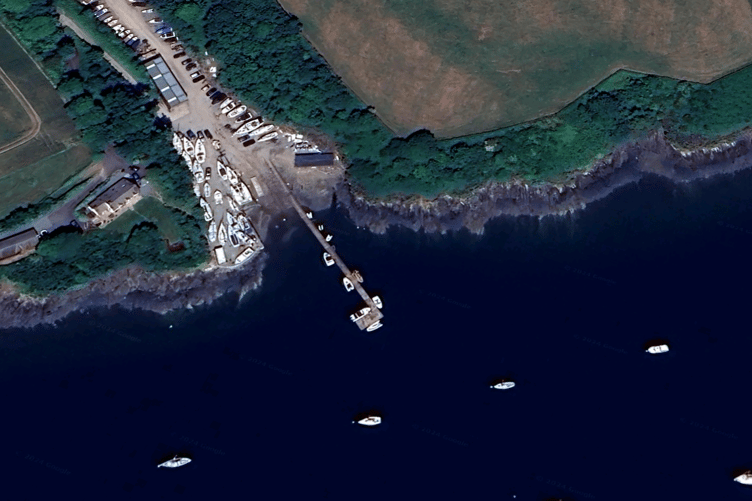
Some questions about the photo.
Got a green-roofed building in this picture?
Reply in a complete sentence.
No, there's no green-roofed building here.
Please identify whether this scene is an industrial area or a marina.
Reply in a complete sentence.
It's a marina.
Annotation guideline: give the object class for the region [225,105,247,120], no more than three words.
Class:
boat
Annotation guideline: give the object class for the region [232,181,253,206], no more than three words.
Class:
boat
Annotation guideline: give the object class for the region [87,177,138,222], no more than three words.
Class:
house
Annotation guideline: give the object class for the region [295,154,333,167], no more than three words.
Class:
shed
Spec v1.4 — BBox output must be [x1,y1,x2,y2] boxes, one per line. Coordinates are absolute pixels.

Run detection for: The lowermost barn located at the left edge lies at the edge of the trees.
[0,227,40,259]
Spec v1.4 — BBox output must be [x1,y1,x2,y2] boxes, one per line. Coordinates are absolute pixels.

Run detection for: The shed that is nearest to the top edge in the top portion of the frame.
[143,52,188,109]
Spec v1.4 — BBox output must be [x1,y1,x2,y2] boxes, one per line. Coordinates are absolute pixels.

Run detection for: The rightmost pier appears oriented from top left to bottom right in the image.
[265,159,383,331]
